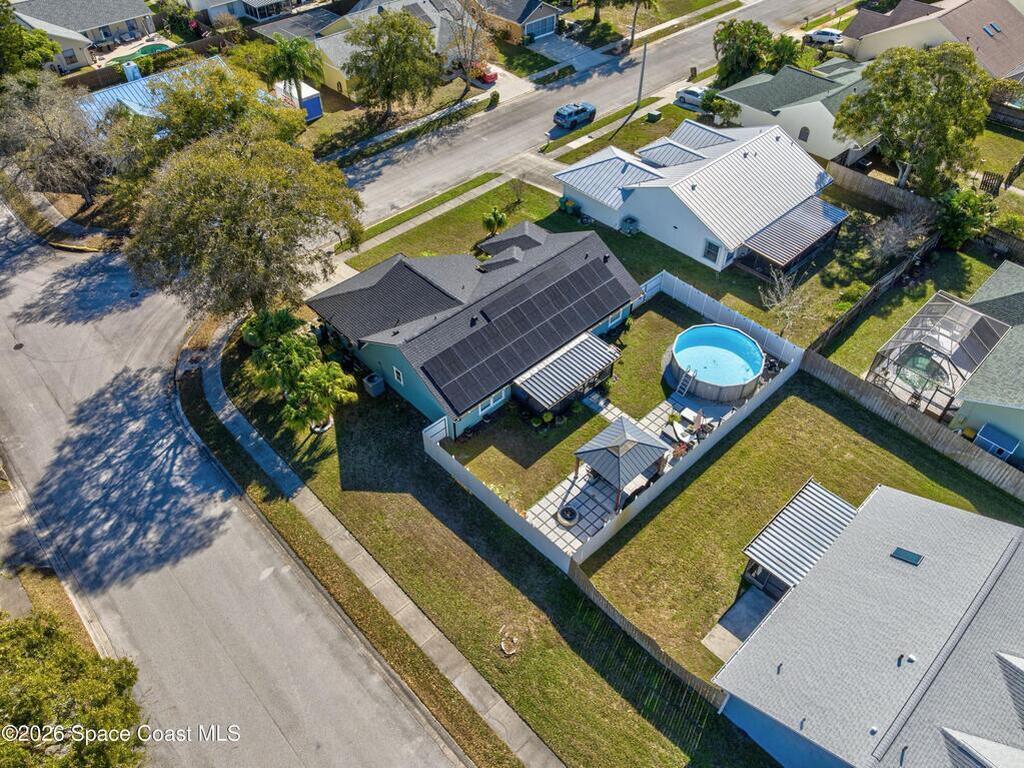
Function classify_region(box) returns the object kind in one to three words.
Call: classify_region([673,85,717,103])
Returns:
car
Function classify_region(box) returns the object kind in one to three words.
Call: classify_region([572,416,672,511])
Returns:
gazebo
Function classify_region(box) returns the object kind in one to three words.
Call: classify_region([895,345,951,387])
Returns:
swimming pool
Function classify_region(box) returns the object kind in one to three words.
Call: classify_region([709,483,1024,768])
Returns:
house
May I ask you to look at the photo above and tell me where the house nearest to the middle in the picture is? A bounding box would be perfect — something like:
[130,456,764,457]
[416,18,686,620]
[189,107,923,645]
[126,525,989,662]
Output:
[306,221,642,440]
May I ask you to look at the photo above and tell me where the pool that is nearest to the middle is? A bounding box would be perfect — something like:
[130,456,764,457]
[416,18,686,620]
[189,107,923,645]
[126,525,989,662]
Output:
[670,324,765,399]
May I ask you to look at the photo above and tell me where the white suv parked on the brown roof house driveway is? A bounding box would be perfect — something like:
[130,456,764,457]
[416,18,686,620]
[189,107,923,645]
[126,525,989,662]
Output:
[803,27,842,47]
